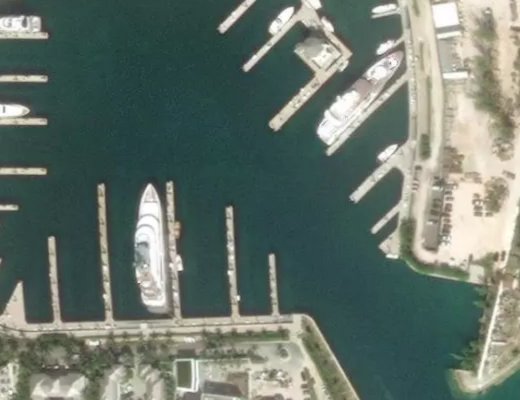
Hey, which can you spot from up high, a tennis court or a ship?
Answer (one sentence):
There is a ship in the scene.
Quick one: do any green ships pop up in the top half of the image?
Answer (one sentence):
No, I can find no green ship in the top half of the image.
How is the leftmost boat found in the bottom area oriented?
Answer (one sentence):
The leftmost boat found in the bottom area is laid out up and down.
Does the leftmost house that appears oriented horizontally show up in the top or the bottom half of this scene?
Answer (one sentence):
The bottom half of the photo is where the leftmost house that appears oriented horizontally is.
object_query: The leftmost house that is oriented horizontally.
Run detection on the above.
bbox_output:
[26,370,92,400]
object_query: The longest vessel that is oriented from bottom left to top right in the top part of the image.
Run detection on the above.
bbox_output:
[316,51,401,145]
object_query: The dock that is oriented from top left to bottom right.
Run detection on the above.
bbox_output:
[295,0,352,54]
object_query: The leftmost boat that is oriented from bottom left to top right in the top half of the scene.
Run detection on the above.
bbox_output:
[268,8,294,36]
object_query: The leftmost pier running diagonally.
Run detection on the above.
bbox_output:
[218,0,259,35]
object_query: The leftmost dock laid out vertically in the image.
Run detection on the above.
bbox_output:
[48,236,61,319]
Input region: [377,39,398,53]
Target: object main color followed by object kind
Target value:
white boat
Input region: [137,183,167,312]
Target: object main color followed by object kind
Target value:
white boat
